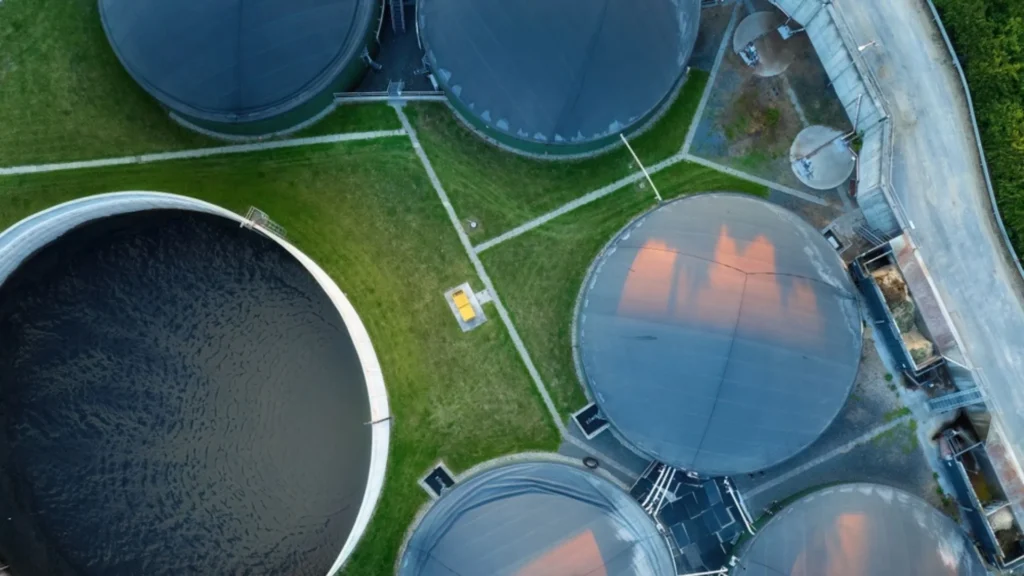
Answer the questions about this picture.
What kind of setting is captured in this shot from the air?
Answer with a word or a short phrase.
industrial area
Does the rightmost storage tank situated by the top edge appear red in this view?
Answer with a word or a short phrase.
No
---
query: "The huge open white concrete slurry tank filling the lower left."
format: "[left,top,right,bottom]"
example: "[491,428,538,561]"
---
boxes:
[0,192,394,576]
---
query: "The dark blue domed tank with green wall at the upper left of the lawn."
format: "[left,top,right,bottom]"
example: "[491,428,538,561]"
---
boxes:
[97,0,394,134]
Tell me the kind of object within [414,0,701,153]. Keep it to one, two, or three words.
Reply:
storage tank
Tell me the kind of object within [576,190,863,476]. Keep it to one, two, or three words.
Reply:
storage tank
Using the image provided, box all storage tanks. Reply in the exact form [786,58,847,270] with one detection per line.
[397,455,677,576]
[97,0,394,134]
[724,479,996,576]
[576,190,863,476]
[0,192,394,576]
[414,0,701,153]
